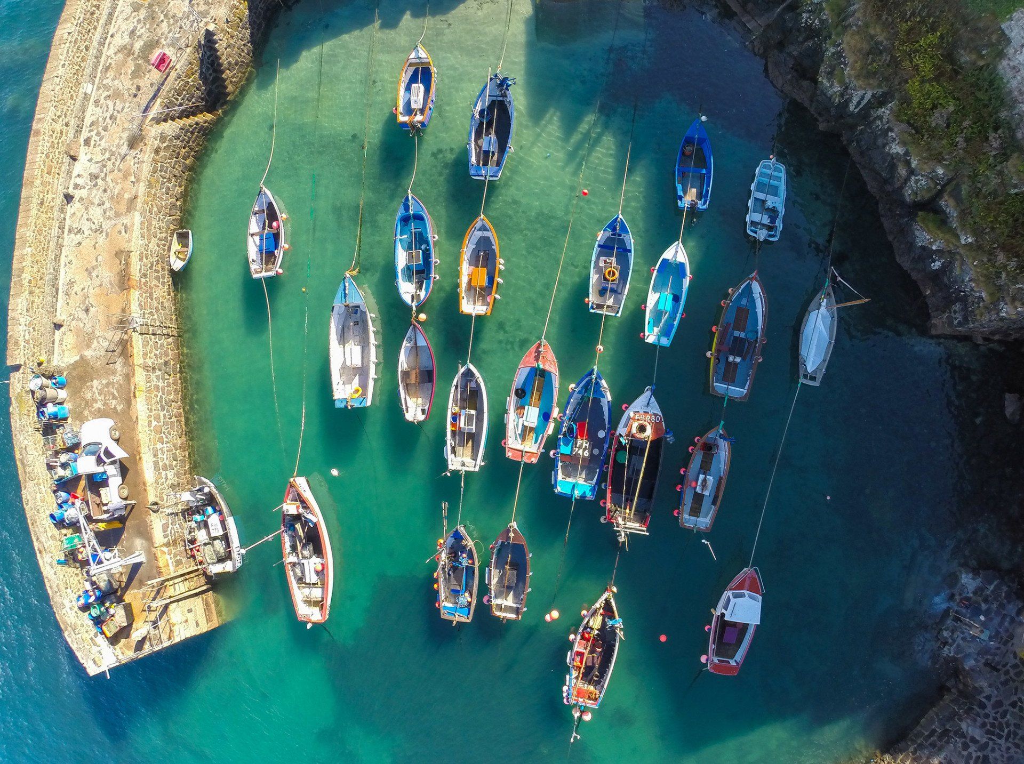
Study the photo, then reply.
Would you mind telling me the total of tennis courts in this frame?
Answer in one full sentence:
No tennis courts are visible.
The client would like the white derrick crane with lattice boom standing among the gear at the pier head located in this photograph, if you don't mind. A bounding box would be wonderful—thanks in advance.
[71,490,155,584]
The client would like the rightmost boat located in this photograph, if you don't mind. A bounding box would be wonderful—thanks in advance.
[794,265,871,385]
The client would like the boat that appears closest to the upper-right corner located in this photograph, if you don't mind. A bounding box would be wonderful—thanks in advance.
[745,159,788,244]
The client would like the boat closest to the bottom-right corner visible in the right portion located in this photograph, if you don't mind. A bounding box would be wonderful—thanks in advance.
[706,568,765,677]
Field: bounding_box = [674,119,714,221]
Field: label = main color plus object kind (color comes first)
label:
blue boat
